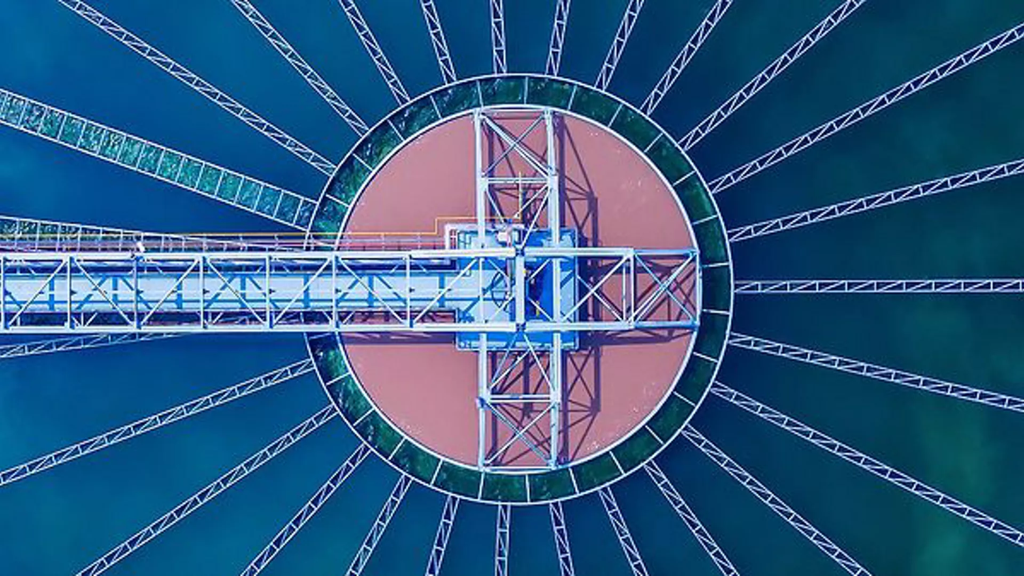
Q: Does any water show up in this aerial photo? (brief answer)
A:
Yes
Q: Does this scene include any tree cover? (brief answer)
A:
No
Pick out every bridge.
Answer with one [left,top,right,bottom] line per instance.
[0,232,701,331]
